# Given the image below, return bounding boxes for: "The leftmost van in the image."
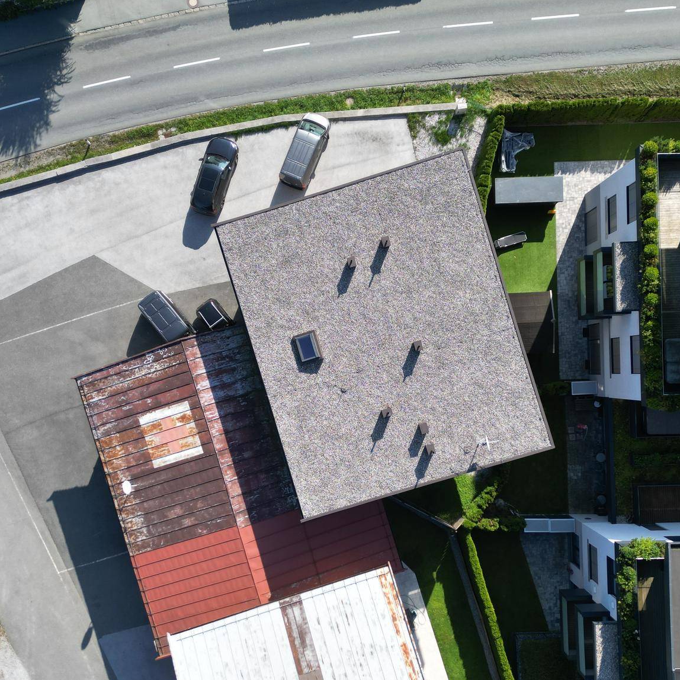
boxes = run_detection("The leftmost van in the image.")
[139,290,201,346]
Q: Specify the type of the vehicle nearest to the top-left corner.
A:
car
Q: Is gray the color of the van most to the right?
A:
Yes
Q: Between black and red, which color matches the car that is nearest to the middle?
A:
black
